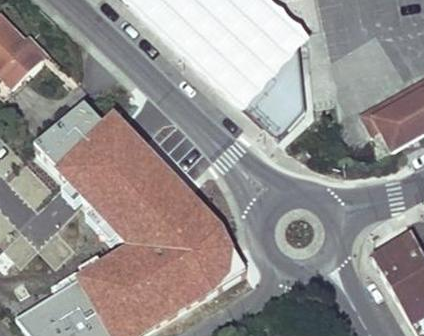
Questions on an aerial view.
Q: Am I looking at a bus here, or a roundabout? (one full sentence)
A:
There is a roundabout in the scene.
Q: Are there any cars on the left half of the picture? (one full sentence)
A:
Yes, a car shows up on the left half of the picture.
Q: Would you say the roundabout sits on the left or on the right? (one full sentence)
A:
You can find the roundabout on the right side of the picture.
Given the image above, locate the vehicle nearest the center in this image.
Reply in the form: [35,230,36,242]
[181,150,200,168]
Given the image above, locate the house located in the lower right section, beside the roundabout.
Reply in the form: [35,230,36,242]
[372,228,424,326]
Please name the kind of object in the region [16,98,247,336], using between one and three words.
building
